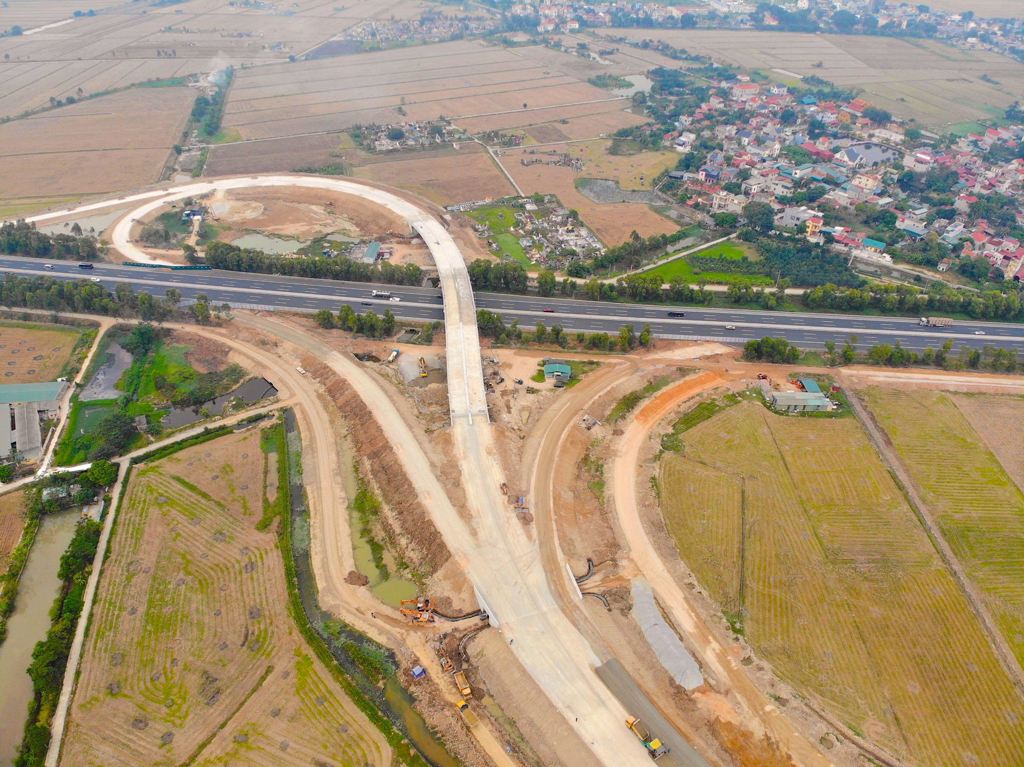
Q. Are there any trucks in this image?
Yes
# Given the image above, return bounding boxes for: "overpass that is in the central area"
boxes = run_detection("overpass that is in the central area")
[399,212,493,439]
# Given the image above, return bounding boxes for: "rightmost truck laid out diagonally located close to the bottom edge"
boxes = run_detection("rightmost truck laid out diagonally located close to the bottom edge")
[622,709,654,749]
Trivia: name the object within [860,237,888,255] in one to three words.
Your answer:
house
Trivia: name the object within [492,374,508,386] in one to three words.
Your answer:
vehicle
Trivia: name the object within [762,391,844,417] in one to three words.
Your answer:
building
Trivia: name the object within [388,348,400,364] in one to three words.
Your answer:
vehicle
